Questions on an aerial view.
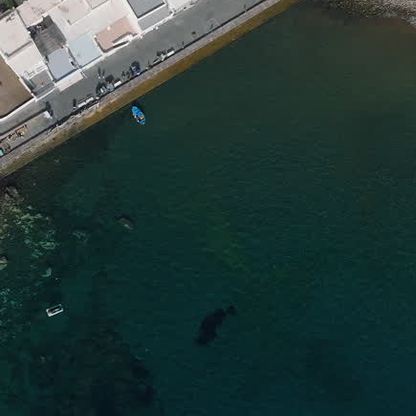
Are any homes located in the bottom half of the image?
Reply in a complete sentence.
No, there's no home to be seen in the bottom half of the image.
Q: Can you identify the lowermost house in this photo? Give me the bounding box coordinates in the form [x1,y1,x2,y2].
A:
[25,67,54,99]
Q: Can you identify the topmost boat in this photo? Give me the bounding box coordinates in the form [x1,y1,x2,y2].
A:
[133,106,146,126]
